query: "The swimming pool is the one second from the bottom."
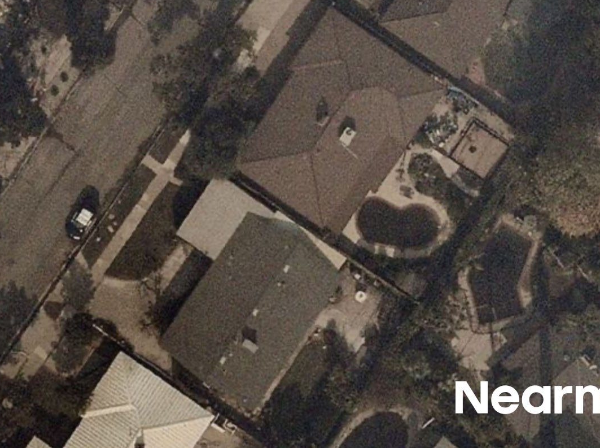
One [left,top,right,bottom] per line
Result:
[467,224,532,327]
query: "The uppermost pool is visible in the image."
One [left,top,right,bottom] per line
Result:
[355,195,442,252]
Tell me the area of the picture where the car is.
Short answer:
left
